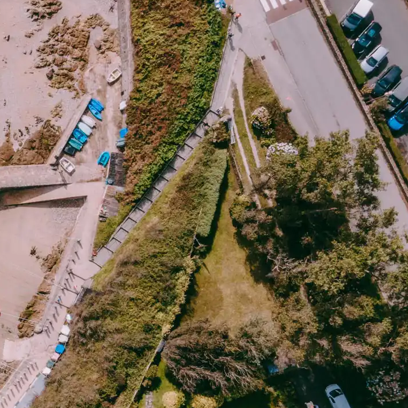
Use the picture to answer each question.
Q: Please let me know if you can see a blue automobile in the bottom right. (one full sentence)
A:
Yes, I can see a blue automobile in the bottom right.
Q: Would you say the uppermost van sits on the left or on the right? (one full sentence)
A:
You can find the uppermost van on the right side of the picture.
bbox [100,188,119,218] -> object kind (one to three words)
shed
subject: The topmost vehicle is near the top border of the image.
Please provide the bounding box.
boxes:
[342,0,383,38]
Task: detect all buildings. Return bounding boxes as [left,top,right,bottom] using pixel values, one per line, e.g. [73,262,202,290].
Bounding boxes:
[106,152,125,187]
[100,188,119,218]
